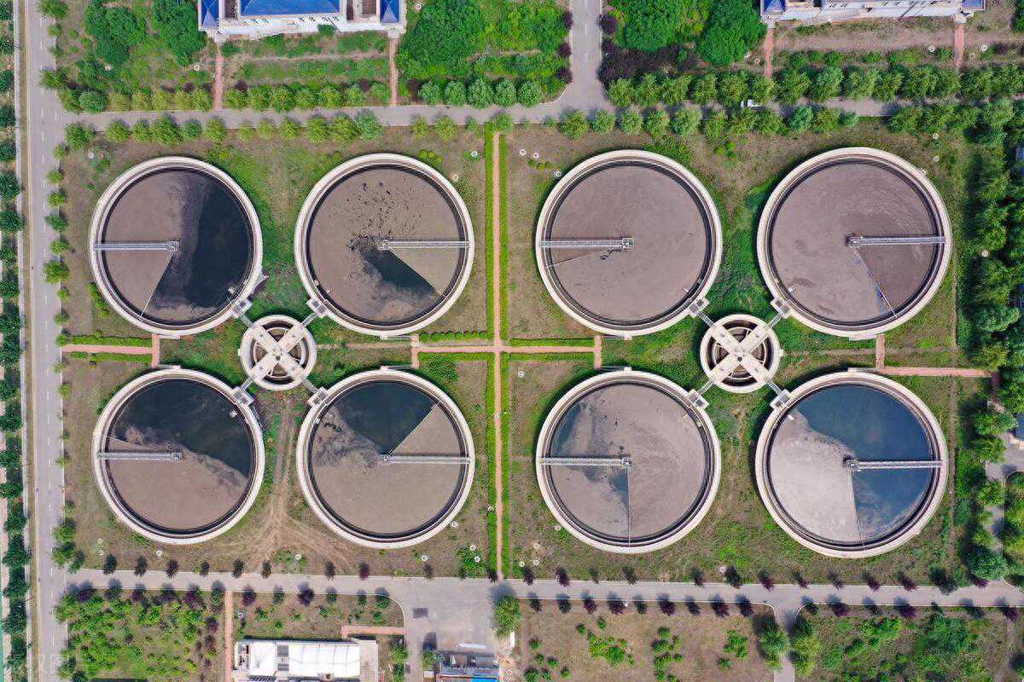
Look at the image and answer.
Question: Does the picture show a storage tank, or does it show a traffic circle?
storage tank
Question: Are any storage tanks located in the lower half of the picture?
Yes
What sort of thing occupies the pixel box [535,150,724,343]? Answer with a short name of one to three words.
storage tank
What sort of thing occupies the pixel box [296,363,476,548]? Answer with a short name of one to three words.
storage tank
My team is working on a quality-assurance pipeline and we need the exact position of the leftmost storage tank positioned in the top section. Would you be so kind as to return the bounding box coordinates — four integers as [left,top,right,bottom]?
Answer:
[88,156,268,341]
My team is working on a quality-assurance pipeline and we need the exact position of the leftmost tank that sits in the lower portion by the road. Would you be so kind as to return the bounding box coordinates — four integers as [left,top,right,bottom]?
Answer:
[92,362,270,544]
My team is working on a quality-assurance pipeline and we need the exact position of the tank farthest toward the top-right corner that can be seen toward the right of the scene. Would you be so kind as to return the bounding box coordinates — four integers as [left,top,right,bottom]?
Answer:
[753,148,952,343]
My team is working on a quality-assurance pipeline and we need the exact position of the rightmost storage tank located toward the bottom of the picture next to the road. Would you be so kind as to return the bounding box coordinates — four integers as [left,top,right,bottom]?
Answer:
[751,365,947,558]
